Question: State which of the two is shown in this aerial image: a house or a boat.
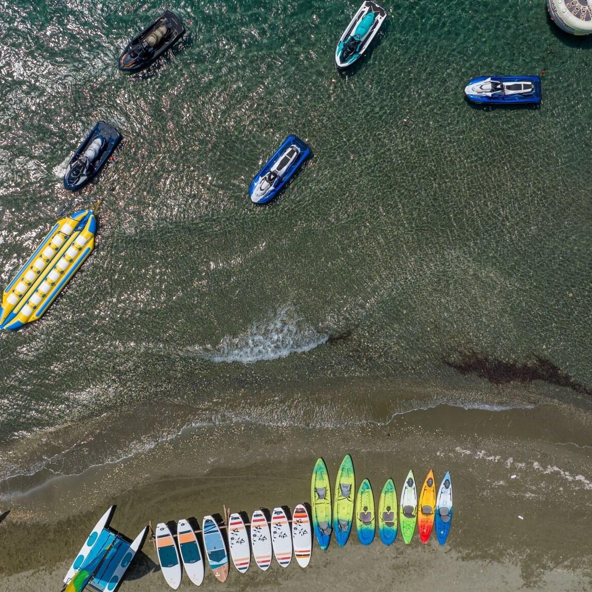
boat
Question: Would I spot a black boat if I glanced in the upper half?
Yes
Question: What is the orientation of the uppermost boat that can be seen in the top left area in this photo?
at an angle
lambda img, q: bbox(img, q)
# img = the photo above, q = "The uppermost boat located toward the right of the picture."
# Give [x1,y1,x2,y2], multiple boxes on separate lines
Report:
[335,3,385,70]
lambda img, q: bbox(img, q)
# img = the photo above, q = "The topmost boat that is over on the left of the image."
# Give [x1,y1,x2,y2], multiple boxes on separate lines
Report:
[119,13,183,71]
